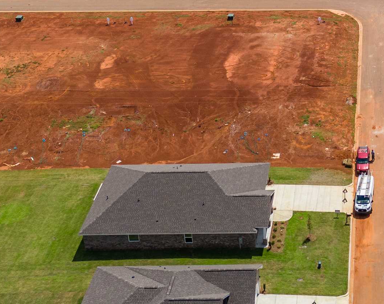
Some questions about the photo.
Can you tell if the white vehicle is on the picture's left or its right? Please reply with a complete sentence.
The white vehicle appears in the right half of the scene.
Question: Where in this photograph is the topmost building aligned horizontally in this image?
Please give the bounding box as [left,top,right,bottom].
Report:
[78,163,280,252]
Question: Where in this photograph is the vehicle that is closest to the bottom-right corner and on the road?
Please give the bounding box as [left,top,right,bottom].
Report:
[353,170,373,211]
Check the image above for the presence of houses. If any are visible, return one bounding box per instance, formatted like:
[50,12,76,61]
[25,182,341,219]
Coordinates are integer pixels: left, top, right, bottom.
[81,265,262,304]
[78,163,280,252]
